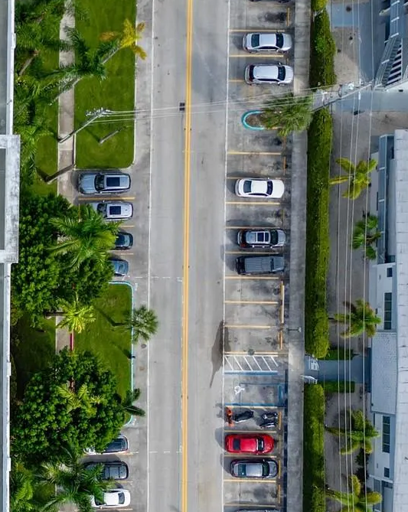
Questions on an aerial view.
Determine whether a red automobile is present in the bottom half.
Yes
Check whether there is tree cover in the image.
Yes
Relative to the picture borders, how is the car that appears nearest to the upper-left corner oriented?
from side to side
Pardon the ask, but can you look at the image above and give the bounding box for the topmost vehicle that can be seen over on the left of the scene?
[79,171,132,194]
